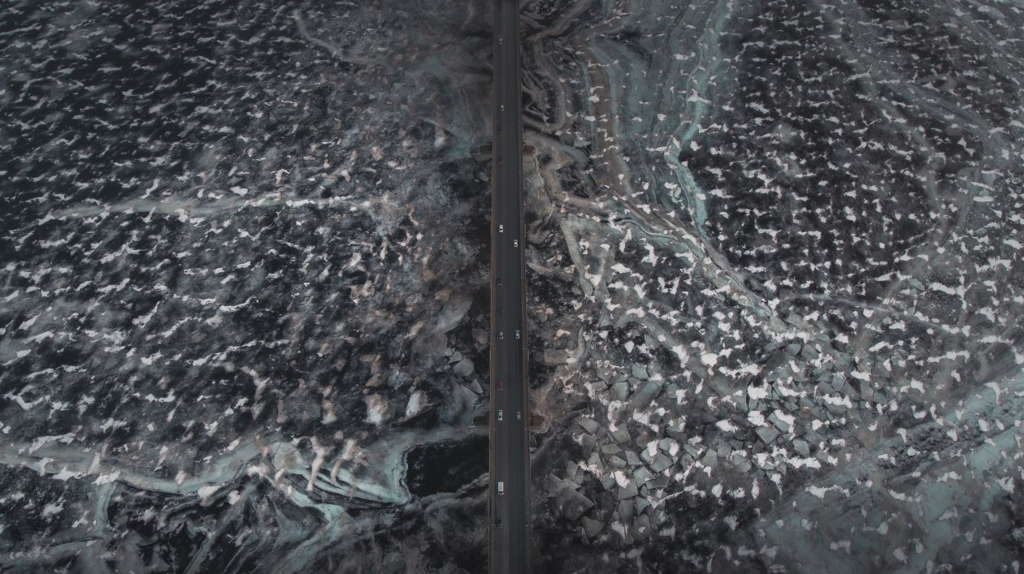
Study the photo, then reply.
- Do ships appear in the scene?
No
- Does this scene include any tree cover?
No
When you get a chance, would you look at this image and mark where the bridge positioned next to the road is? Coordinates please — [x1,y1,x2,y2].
[474,0,545,574]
